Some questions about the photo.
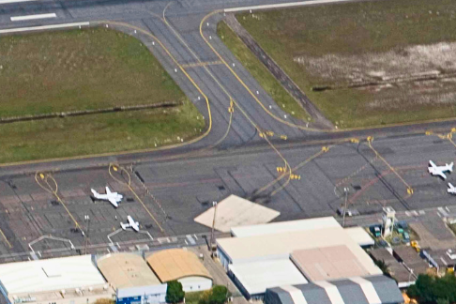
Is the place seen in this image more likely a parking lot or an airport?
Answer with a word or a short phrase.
airport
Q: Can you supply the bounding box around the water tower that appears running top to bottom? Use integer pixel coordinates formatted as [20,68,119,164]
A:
[382,208,399,239]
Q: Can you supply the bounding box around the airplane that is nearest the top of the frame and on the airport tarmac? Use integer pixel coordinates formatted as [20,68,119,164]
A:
[428,161,456,176]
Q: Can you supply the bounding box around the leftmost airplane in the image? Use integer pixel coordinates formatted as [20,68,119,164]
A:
[89,186,122,205]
